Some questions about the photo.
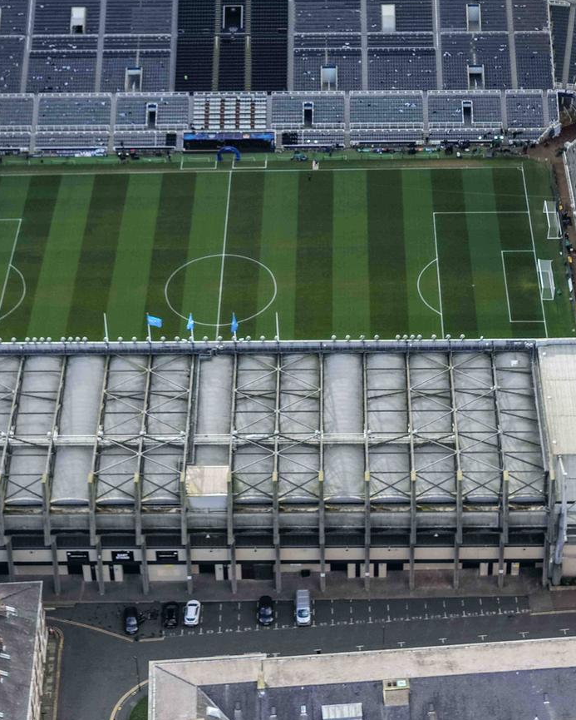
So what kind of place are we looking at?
sports ground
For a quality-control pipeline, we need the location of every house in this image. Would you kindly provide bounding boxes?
[0,579,54,720]
[147,634,576,720]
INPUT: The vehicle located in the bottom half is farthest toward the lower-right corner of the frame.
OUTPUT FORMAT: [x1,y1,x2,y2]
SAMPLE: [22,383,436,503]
[294,586,311,623]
